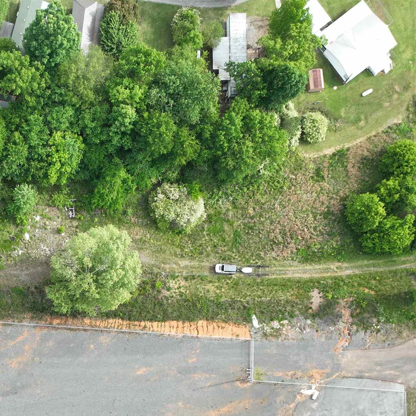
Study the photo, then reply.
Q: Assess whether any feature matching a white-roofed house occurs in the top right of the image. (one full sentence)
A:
Yes, a white-roofed house appears in the top right of the image.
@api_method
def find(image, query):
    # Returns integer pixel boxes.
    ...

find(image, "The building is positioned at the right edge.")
[316,0,397,87]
